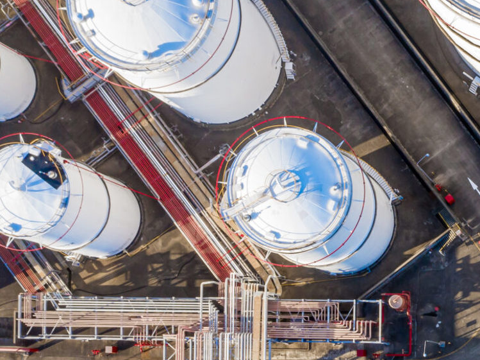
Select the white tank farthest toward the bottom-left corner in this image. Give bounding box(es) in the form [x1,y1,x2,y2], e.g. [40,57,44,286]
[0,128,157,268]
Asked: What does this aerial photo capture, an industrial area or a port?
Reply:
industrial area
